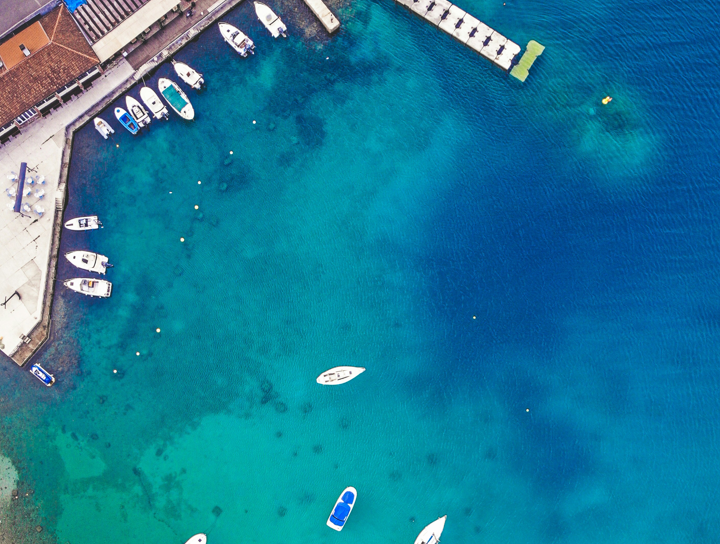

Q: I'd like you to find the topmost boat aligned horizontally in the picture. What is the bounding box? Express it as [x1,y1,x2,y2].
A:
[63,215,106,232]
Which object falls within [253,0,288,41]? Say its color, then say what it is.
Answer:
white boat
